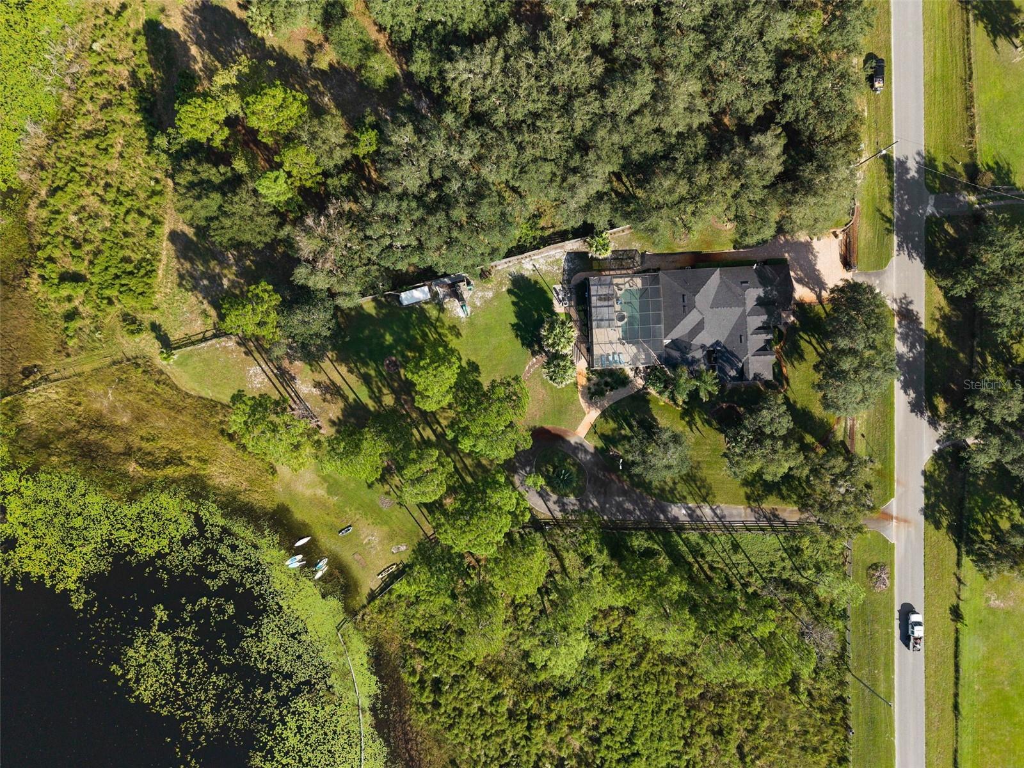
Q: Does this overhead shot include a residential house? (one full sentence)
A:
Yes, I can see a residential house in this picture.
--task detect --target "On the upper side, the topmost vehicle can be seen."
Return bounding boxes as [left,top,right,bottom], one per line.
[872,54,889,95]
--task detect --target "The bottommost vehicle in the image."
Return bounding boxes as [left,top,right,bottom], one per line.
[907,609,925,650]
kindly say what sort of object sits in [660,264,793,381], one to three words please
house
